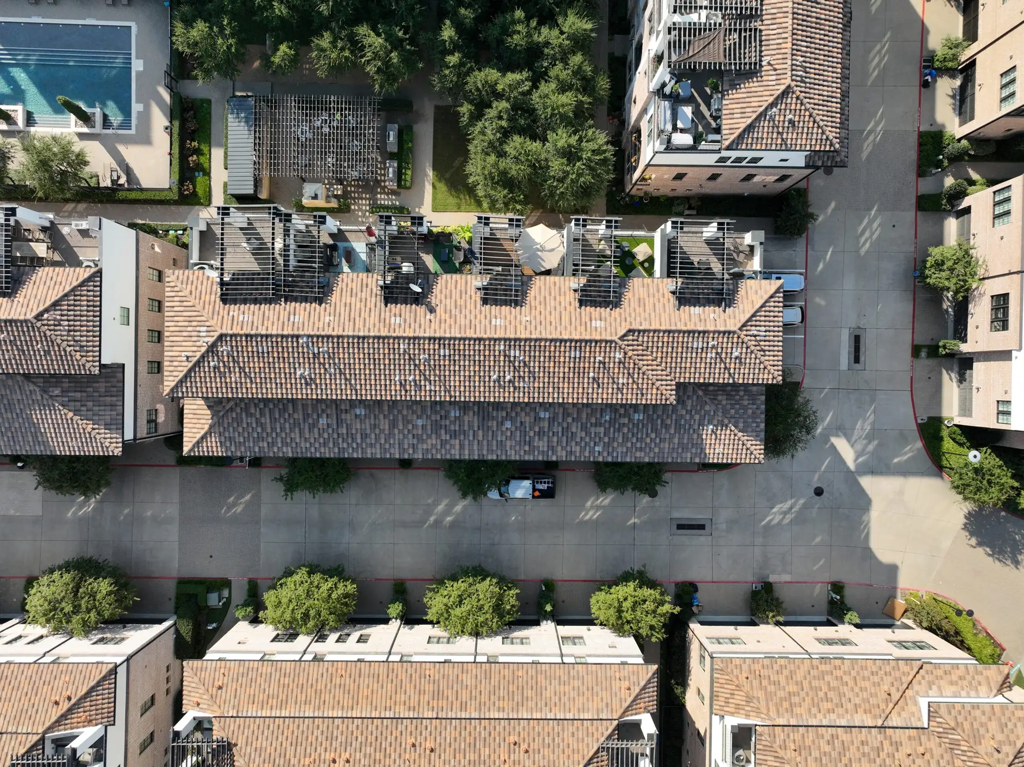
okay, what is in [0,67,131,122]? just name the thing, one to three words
swimming pool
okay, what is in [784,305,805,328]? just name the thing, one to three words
car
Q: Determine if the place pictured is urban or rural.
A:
urban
